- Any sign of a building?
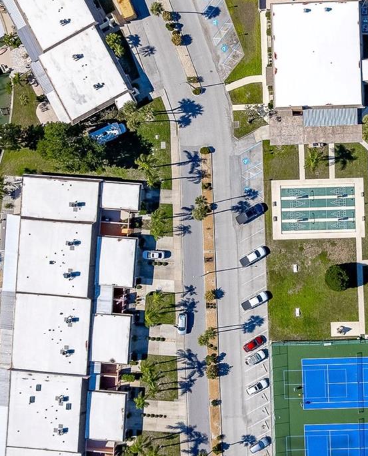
Yes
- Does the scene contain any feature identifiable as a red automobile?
Yes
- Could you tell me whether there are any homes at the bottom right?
No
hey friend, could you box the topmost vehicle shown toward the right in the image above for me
[237,203,266,223]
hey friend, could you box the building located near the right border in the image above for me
[271,1,368,126]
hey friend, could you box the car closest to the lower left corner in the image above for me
[173,311,188,335]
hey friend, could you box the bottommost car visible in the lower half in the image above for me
[248,435,272,454]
